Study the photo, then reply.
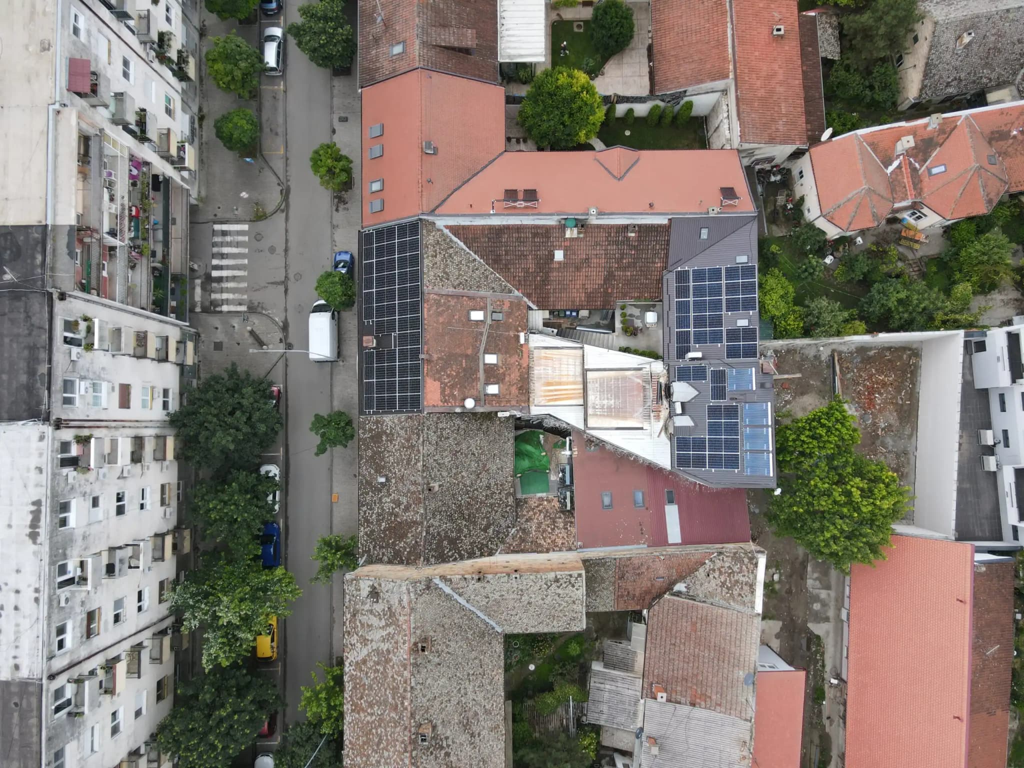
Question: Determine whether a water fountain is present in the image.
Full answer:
No, the picture doesn't show any water fountain.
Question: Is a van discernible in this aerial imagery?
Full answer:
Yes, this view includes a van.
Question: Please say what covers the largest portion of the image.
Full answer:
The bulk of the photo consists of buildings.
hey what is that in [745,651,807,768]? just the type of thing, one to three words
house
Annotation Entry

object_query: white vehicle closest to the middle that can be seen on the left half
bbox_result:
[309,303,339,360]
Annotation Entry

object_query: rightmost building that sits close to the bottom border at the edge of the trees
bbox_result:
[833,534,1013,768]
